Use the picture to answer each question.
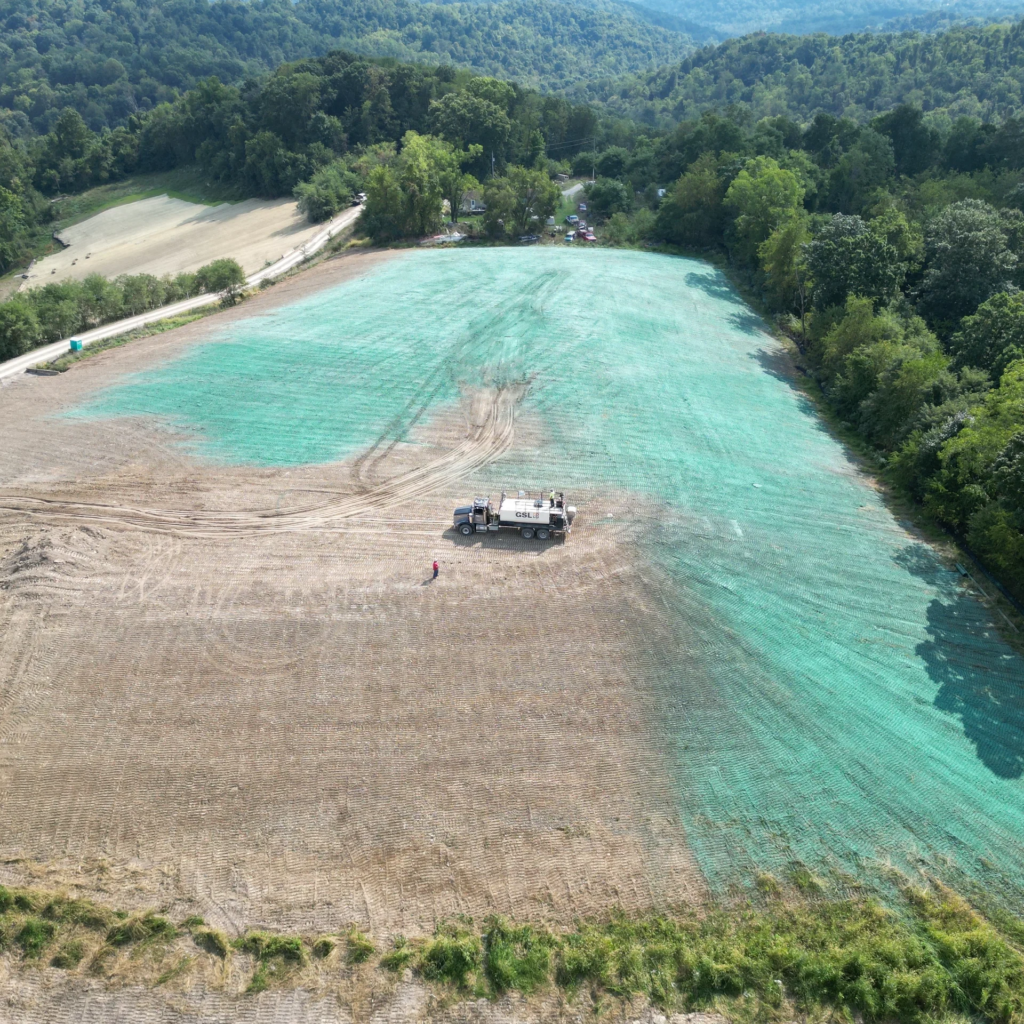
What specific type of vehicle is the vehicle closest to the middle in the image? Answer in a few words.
truck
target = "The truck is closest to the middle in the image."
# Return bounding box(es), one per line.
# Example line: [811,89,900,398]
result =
[451,484,578,539]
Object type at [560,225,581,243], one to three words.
vehicle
